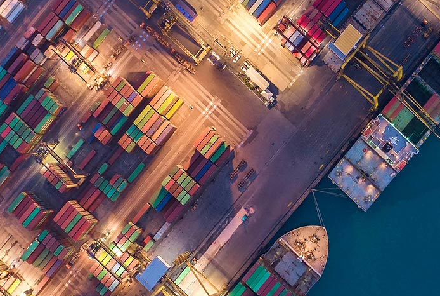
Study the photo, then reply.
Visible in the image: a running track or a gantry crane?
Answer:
gantry crane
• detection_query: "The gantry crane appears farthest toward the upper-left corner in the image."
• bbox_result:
[51,38,112,91]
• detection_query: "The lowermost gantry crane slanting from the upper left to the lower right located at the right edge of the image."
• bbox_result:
[320,24,440,145]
